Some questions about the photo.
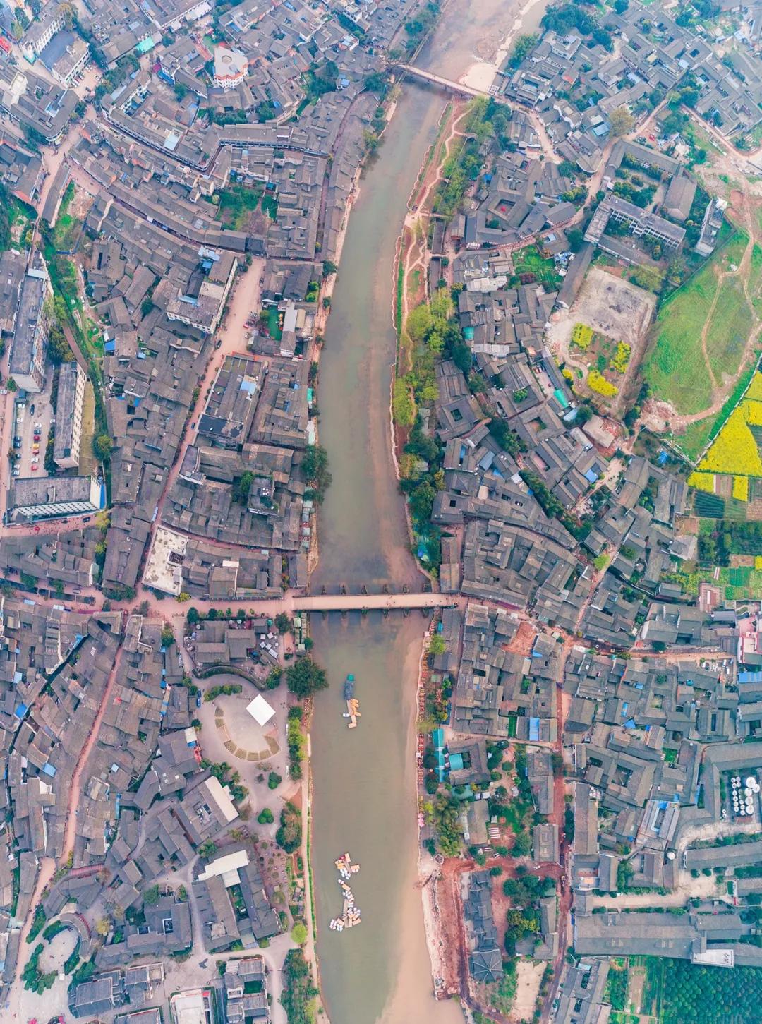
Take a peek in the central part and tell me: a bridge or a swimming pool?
bridge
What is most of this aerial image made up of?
buildings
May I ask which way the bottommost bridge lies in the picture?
from side to side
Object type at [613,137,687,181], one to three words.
house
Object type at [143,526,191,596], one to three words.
building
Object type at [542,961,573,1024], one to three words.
house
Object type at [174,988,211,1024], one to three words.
building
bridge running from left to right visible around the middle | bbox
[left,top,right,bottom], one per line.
[290,585,464,621]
